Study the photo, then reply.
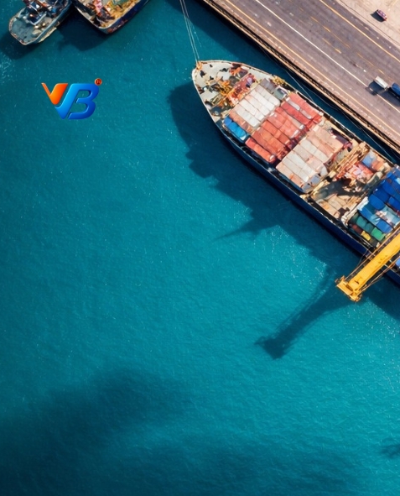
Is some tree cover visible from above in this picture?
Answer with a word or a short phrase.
No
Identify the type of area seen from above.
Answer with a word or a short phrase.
port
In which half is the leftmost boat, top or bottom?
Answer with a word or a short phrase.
top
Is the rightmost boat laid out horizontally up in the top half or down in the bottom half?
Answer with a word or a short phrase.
top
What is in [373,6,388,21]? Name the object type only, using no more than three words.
vehicle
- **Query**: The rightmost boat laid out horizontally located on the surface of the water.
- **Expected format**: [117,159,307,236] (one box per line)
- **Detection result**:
[73,0,175,42]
